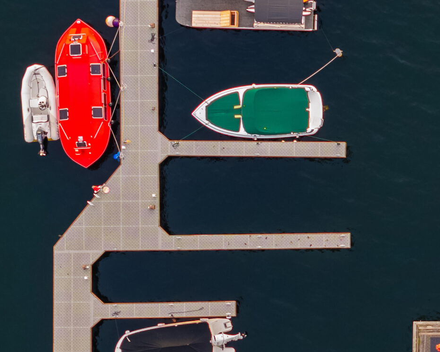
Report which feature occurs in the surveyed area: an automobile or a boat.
boat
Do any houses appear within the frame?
No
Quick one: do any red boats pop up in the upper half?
Yes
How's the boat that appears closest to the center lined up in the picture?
from side to side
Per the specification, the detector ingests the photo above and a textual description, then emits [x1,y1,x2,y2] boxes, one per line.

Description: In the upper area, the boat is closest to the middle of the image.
[192,83,324,137]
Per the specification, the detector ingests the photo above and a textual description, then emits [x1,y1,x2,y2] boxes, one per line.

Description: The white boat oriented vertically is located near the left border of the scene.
[21,64,59,156]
